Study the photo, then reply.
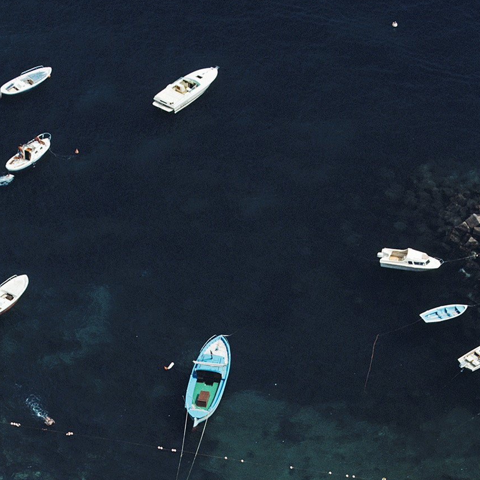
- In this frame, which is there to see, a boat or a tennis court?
boat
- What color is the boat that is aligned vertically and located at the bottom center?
blue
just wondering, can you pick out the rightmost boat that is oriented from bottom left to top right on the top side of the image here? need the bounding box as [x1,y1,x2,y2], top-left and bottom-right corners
[149,67,221,123]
